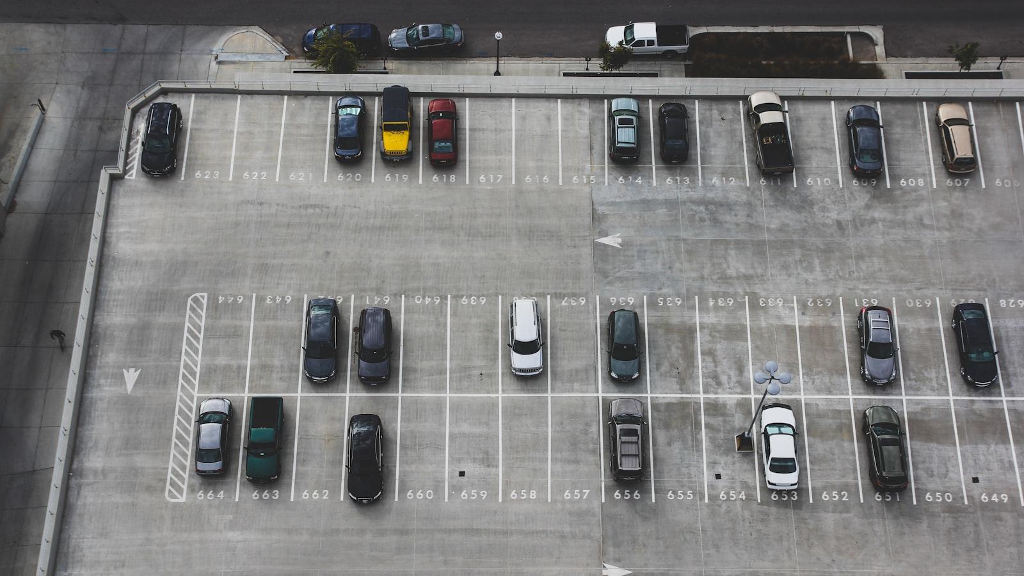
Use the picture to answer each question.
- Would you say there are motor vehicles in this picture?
Yes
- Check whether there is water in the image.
No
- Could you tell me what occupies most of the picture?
paved ground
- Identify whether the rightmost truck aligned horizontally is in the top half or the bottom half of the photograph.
top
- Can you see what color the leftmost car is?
black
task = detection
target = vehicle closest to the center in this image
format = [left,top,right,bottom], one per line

[507,299,544,377]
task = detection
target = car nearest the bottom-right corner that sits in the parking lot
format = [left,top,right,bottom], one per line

[861,405,908,491]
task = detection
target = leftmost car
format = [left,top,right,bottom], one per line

[141,101,183,175]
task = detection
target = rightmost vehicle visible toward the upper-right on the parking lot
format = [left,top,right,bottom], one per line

[936,104,978,173]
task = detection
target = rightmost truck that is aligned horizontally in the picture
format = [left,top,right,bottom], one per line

[605,24,689,58]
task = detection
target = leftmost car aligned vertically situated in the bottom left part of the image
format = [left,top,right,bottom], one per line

[195,397,233,475]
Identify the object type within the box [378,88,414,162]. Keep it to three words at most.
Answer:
vehicle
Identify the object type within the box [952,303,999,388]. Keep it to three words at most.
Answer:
car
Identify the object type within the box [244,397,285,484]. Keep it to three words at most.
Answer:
truck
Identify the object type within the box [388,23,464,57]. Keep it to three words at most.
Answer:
car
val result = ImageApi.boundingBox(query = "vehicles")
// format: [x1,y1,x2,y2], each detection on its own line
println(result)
[657,102,691,164]
[936,104,978,173]
[378,88,414,162]
[507,299,544,377]
[758,403,799,490]
[608,99,643,164]
[608,398,648,481]
[332,95,367,162]
[344,413,385,504]
[749,93,794,176]
[195,397,233,475]
[141,101,183,175]
[605,24,689,58]
[952,303,999,388]
[301,299,340,384]
[606,307,643,384]
[355,307,393,385]
[426,98,459,165]
[244,397,285,484]
[861,405,908,491]
[856,305,899,386]
[840,105,882,177]
[388,23,464,57]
